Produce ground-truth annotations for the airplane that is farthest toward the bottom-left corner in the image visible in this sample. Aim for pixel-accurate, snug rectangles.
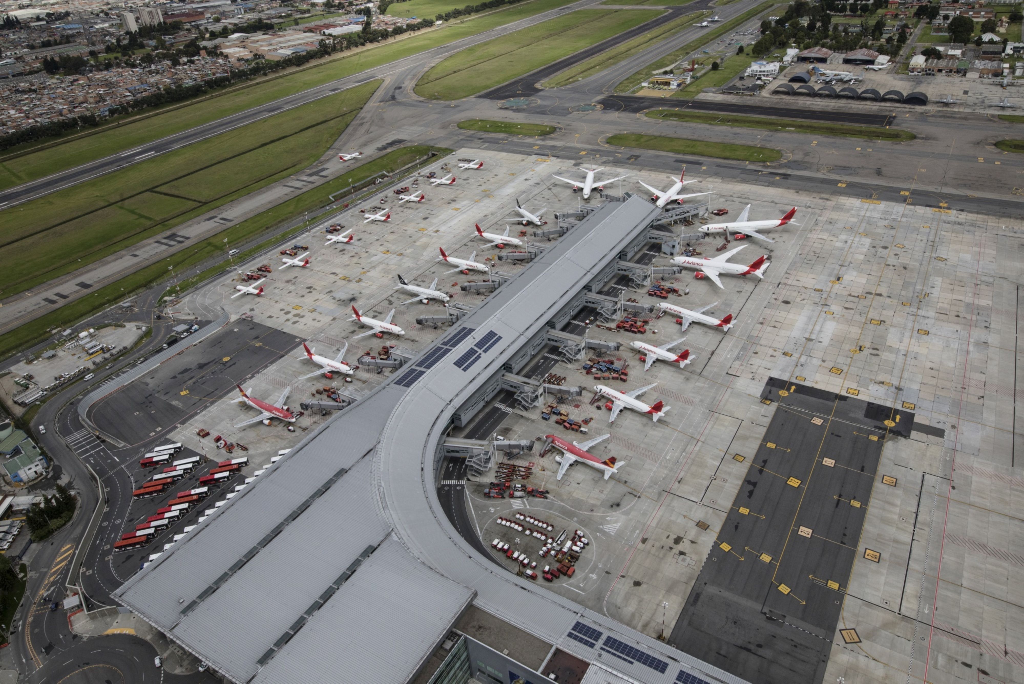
[227,386,296,428]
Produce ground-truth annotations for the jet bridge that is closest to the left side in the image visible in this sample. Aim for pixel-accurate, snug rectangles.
[298,399,353,417]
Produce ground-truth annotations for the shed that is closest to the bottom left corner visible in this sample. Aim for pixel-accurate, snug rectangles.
[60,588,83,610]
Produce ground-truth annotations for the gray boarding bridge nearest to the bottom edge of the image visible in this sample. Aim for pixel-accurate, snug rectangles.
[491,440,534,460]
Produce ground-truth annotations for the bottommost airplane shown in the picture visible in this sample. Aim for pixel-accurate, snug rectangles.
[548,433,625,479]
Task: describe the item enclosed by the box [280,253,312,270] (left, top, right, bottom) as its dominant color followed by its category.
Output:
white airplane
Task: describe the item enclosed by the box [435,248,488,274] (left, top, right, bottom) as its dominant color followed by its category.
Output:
white airplane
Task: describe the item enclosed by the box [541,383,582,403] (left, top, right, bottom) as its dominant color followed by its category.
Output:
gray jet bridge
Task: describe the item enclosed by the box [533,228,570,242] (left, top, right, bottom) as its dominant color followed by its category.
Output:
gray jet bridge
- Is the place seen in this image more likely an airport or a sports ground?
airport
